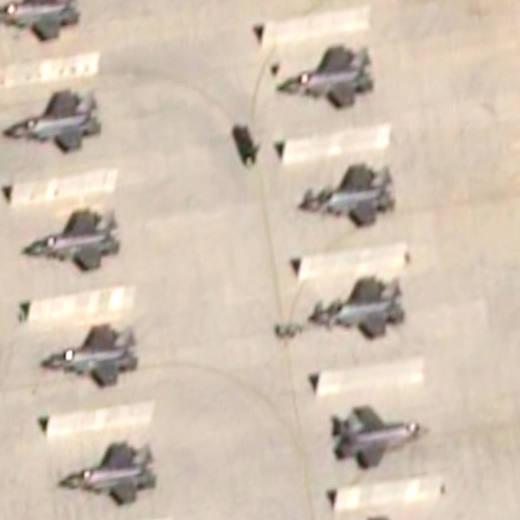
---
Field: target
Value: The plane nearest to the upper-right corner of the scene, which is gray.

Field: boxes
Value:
[284,46,372,105]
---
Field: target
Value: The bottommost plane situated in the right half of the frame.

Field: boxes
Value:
[341,406,428,465]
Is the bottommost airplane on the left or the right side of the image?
left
